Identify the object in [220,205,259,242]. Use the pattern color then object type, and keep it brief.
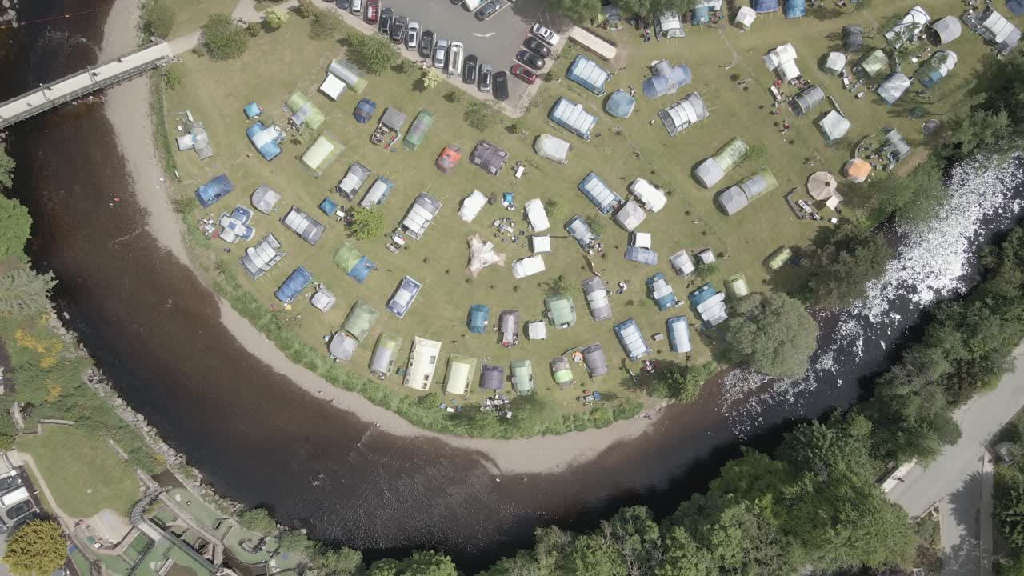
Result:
white tent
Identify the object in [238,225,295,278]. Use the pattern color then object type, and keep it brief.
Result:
white tent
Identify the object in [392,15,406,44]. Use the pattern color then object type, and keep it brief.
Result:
gray car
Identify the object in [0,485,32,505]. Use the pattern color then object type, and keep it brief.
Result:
white vehicle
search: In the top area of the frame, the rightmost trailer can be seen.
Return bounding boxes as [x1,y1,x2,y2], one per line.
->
[567,24,615,61]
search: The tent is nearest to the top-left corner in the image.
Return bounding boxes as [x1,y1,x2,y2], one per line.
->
[179,121,215,161]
